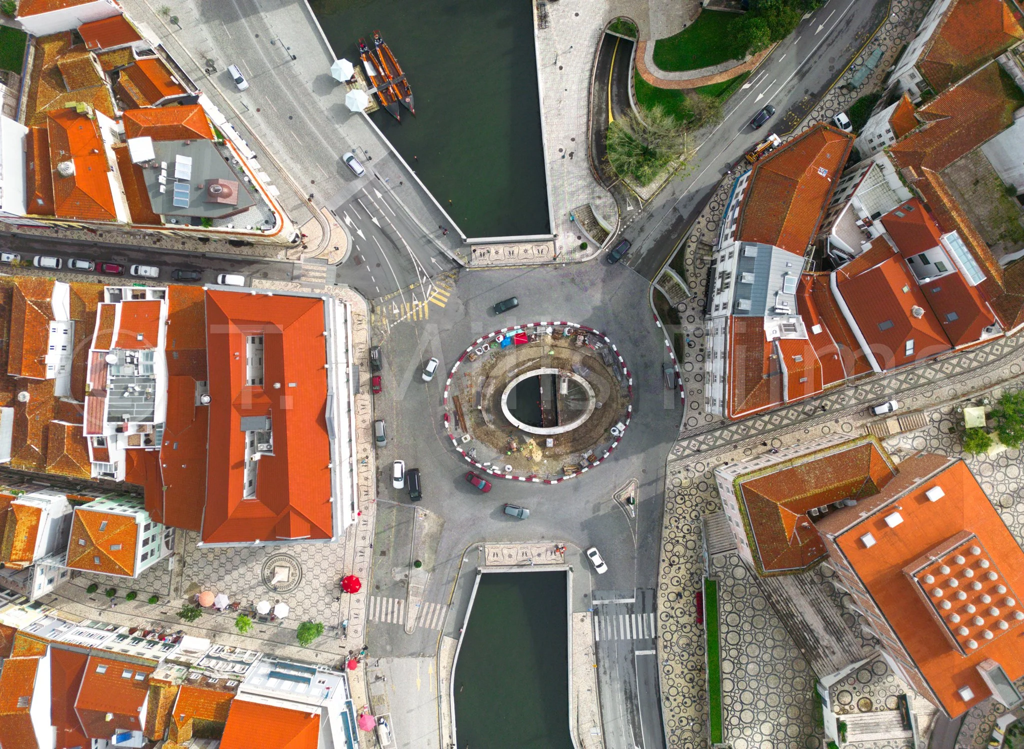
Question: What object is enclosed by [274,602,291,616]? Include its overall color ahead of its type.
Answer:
white umbrella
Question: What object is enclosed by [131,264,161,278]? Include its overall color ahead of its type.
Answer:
white car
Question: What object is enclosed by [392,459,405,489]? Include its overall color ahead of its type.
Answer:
white vehicle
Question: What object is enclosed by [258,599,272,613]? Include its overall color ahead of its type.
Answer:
white umbrella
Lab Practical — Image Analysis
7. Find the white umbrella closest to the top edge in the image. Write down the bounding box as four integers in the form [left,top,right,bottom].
[332,60,355,83]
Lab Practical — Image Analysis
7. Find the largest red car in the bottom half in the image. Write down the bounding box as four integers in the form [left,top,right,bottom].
[464,471,492,493]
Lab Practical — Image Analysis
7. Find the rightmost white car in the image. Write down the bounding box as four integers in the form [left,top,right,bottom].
[869,400,897,417]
